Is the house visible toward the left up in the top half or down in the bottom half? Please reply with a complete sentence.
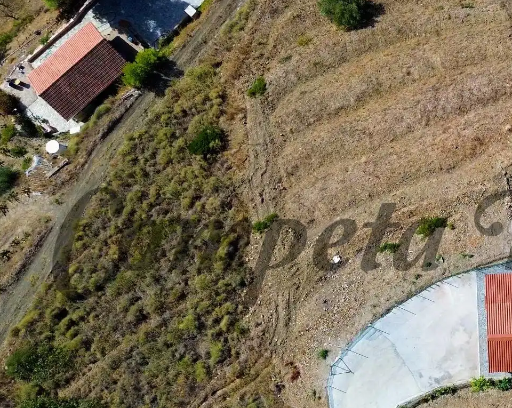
Seen from above, the house visible toward the left lies in the top half of the view.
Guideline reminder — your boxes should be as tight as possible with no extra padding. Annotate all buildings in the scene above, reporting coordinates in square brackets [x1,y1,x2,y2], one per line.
[27,21,129,121]
[485,273,512,373]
